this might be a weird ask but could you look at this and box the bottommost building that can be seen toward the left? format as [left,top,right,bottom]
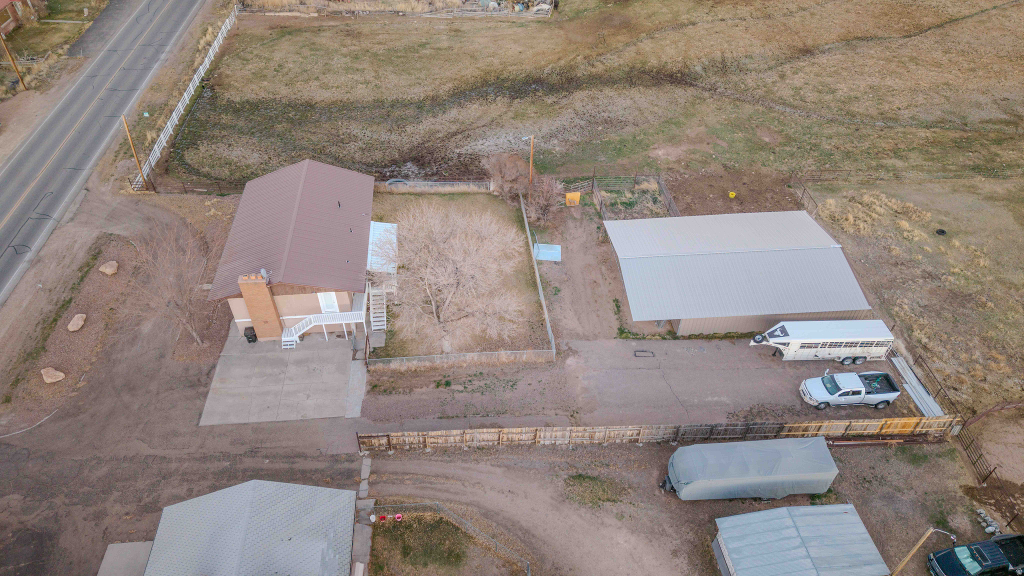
[141,480,359,576]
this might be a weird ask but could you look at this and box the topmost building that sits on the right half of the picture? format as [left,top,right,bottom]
[604,212,872,338]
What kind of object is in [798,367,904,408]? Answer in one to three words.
truck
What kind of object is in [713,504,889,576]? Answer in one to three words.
shed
